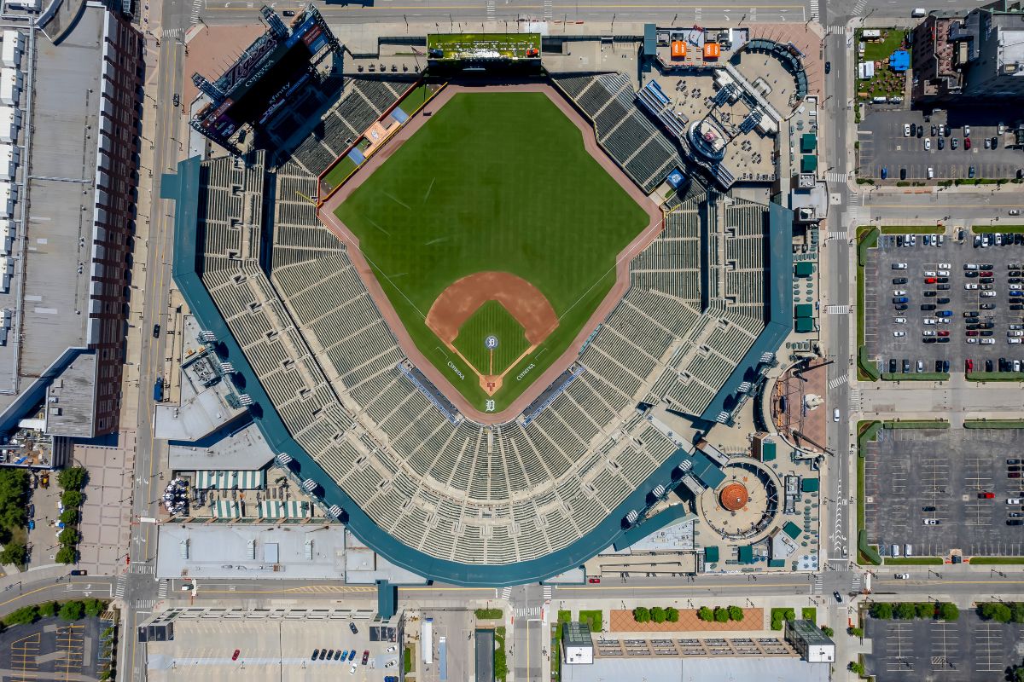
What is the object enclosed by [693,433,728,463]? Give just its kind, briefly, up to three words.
building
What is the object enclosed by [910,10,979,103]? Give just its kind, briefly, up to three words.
building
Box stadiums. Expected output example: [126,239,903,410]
[160,73,792,587]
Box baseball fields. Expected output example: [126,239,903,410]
[304,71,675,427]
